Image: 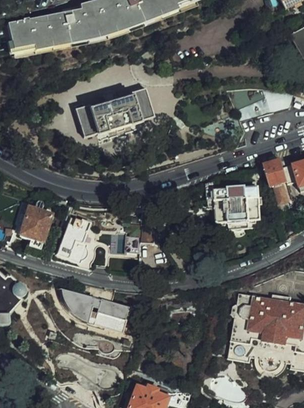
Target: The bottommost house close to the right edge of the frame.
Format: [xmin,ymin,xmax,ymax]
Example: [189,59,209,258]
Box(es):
[228,294,304,379]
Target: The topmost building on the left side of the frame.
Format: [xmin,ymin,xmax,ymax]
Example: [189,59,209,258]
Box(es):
[10,0,200,58]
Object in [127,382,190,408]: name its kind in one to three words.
house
